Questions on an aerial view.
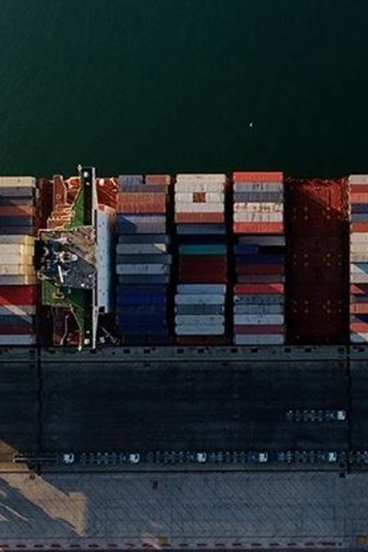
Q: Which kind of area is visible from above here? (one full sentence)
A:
It's a port.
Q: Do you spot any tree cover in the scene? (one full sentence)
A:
No, there is no tree cover in the image.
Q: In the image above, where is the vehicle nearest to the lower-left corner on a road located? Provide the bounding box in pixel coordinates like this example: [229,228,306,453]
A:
[13,454,75,466]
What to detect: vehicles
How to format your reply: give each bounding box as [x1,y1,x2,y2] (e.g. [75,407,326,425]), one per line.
[288,411,347,422]
[209,453,269,465]
[13,454,75,466]
[147,454,207,467]
[278,453,337,465]
[79,454,139,466]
